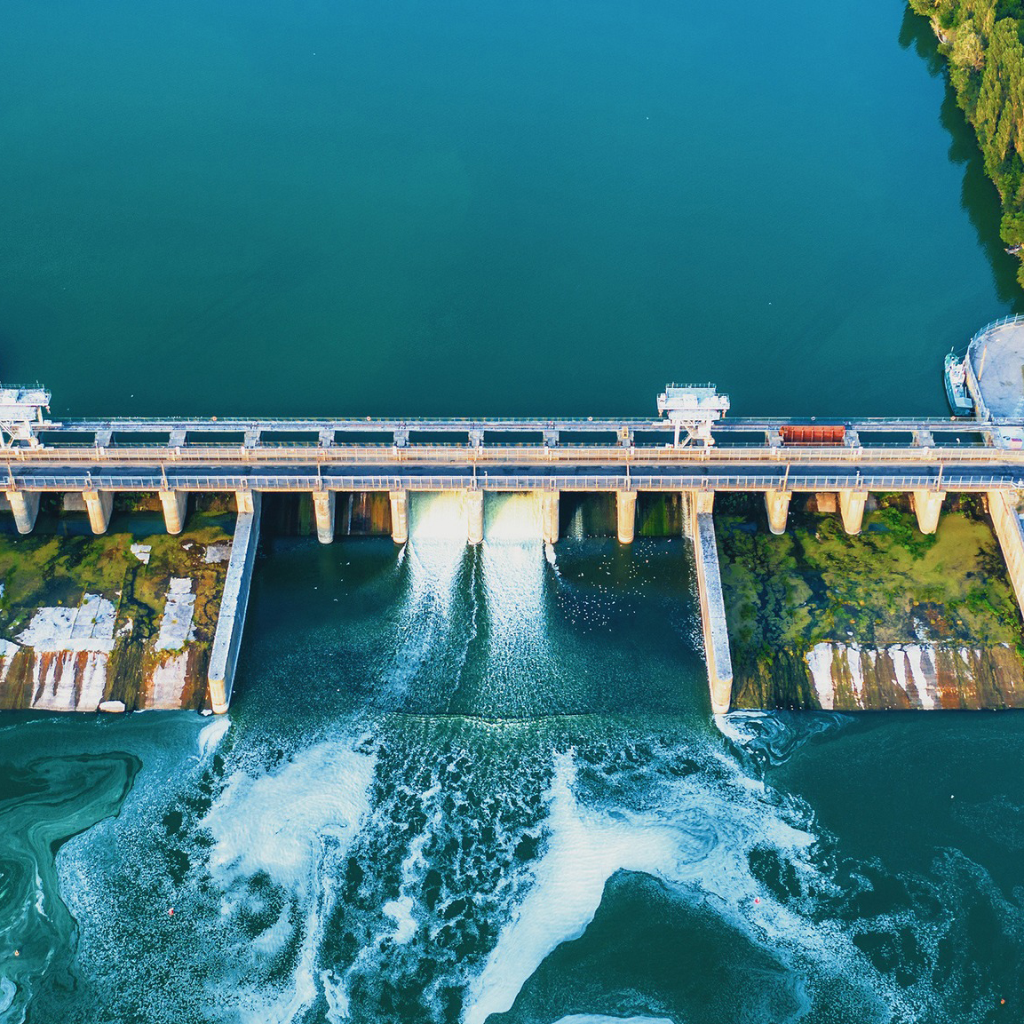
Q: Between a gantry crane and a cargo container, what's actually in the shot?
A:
gantry crane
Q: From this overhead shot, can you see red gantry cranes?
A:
No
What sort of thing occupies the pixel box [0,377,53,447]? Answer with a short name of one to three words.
container crane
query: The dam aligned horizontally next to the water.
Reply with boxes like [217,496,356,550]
[0,421,1024,712]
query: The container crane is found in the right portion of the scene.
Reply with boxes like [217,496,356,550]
[652,377,731,447]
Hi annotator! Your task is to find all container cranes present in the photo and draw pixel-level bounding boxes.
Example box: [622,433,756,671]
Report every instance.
[0,377,53,447]
[652,377,731,447]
